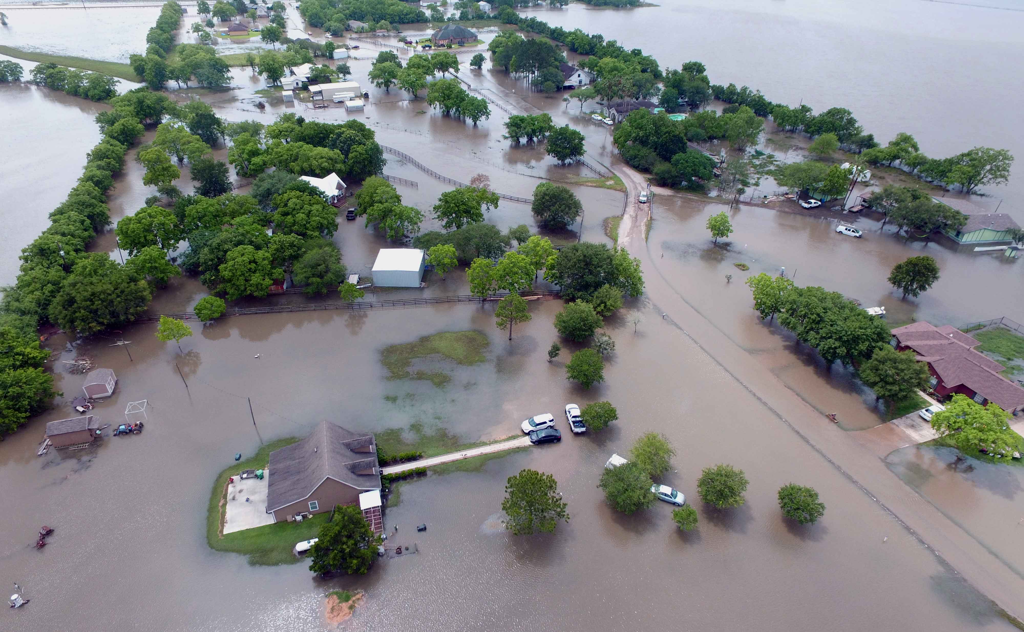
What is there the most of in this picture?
water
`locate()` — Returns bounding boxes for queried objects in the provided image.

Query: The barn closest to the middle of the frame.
[371,246,428,288]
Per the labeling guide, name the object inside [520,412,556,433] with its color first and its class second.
white car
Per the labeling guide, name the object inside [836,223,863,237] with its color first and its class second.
white vehicle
